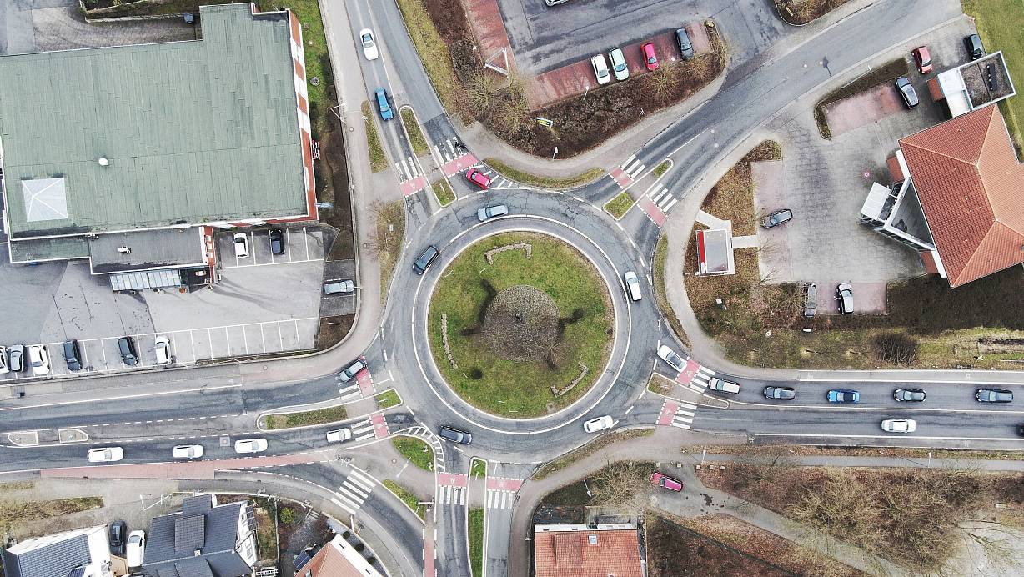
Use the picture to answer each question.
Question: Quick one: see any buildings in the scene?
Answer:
Yes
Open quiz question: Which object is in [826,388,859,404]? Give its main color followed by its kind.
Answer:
blue car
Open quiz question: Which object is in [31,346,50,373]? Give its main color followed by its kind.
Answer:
white car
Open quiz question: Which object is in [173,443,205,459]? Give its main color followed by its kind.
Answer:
white car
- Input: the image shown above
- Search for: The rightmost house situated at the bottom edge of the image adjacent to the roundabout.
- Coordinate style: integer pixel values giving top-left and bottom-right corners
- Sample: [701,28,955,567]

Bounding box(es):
[536,507,641,577]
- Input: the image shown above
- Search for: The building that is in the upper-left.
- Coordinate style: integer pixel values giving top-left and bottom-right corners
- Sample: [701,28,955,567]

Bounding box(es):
[0,1,331,291]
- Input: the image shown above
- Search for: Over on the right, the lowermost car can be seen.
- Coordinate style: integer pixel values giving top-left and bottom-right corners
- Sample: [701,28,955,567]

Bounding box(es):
[650,470,683,492]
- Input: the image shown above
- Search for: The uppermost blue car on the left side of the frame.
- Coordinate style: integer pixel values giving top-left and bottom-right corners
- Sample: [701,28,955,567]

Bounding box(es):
[374,87,394,121]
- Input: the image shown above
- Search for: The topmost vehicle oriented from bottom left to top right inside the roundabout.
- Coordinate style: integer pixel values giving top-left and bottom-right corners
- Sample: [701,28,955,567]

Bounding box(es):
[412,244,440,276]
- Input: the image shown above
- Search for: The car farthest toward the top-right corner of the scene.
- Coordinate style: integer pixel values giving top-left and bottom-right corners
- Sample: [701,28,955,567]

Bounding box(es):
[963,33,982,61]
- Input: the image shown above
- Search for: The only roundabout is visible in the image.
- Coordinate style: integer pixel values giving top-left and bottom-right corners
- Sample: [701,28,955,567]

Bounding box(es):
[370,173,674,478]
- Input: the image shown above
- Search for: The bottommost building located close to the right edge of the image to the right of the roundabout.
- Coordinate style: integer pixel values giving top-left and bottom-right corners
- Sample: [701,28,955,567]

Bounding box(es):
[849,103,1024,288]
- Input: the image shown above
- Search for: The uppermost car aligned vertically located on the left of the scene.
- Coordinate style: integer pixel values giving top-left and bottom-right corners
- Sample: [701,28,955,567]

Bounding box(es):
[360,27,379,62]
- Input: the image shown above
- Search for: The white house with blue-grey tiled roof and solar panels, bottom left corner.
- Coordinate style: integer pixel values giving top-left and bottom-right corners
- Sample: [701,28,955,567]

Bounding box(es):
[4,522,118,577]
